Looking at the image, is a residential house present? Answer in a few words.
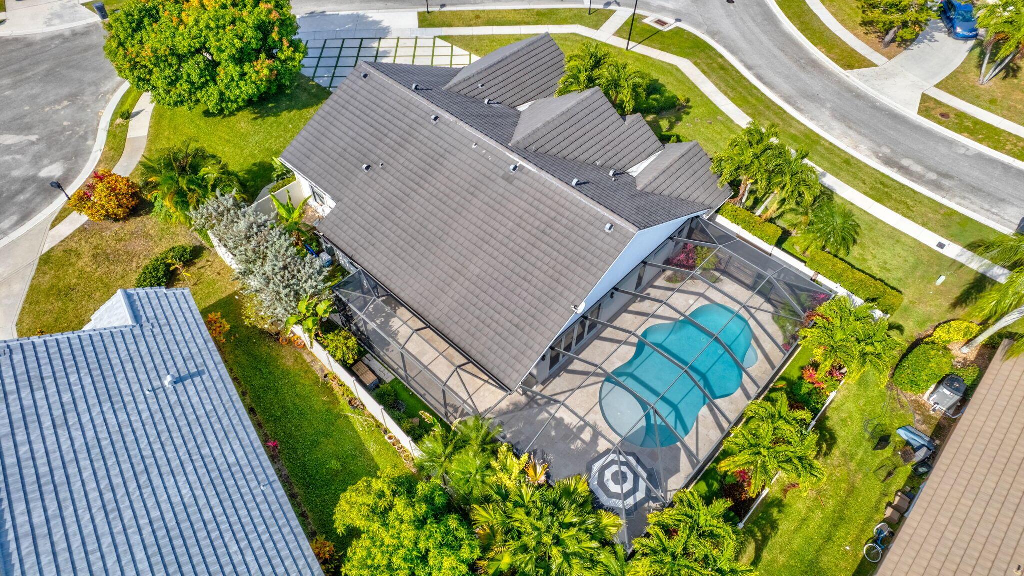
Yes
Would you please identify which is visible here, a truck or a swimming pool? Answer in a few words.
swimming pool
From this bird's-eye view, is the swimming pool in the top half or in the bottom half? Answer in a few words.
bottom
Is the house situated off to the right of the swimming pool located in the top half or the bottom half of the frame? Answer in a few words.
bottom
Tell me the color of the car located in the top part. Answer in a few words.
blue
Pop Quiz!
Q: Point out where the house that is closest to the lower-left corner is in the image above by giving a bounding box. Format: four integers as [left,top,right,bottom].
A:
[0,283,326,576]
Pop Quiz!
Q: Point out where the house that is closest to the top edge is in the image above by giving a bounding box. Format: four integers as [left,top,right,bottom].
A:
[278,30,735,408]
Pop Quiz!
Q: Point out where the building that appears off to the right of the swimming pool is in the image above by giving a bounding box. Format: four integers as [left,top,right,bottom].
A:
[877,344,1024,576]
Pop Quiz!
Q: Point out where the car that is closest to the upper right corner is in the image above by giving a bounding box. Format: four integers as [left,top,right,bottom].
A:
[947,0,983,35]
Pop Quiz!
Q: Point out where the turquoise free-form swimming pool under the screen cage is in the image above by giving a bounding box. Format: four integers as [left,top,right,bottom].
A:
[593,298,764,454]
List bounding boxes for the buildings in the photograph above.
[278,30,735,408]
[877,344,1024,576]
[0,283,326,576]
